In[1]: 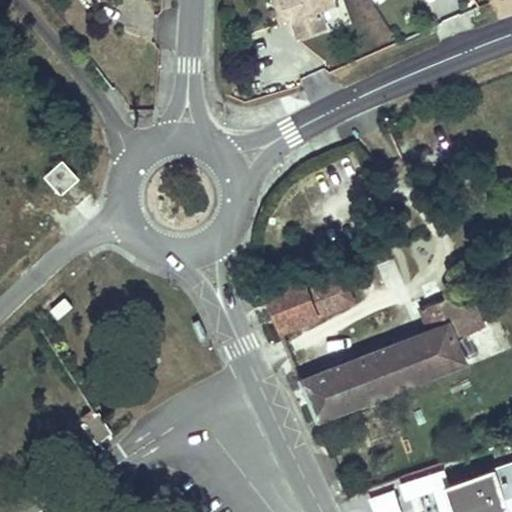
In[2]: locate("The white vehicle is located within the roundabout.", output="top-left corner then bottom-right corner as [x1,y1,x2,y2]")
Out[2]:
[166,254,184,272]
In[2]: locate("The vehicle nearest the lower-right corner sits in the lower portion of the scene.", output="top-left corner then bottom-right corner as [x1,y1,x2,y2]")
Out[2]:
[462,338,476,358]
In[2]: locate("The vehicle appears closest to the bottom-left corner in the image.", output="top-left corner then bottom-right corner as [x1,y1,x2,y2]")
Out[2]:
[180,478,197,494]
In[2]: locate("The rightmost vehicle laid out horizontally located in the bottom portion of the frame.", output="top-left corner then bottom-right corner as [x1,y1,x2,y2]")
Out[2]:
[328,339,352,352]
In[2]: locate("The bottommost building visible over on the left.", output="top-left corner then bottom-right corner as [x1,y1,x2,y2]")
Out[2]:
[80,412,112,444]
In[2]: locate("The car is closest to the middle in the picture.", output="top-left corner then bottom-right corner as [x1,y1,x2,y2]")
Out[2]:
[224,288,236,308]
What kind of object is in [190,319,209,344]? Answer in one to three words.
vehicle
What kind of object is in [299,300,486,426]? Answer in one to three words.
house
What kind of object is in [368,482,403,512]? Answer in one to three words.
building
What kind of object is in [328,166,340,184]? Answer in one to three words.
vehicle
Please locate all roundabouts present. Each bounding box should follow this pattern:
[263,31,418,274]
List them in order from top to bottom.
[98,121,283,284]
